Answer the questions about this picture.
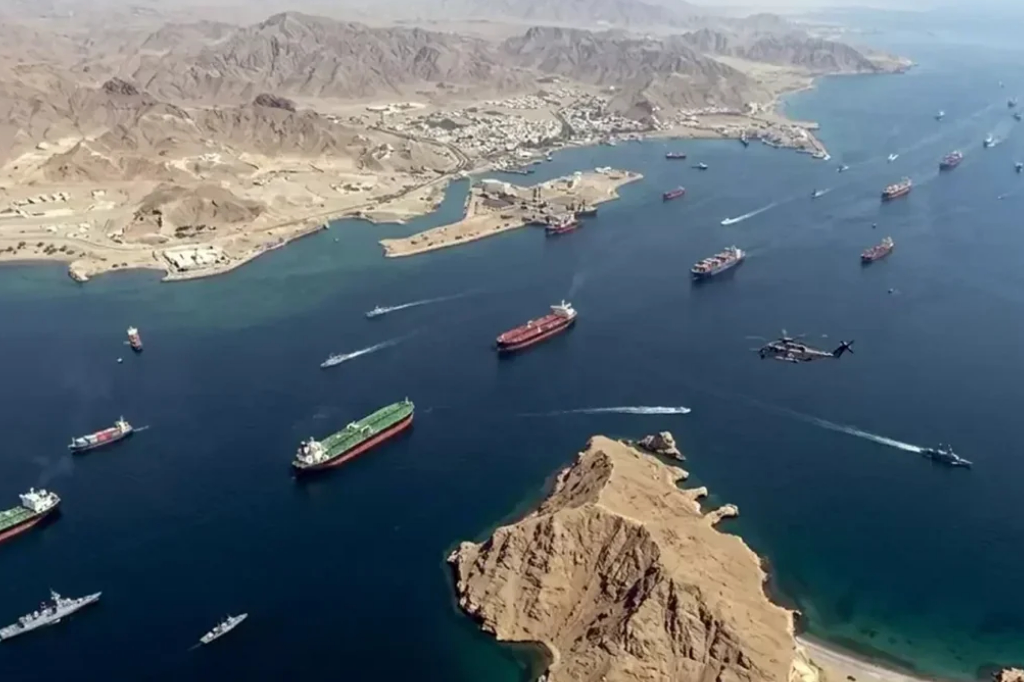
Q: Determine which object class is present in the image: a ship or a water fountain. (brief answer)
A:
ship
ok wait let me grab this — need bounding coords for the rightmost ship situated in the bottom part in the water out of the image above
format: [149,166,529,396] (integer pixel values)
[921,449,970,467]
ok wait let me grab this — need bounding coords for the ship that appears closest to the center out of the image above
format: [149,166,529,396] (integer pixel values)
[498,305,578,347]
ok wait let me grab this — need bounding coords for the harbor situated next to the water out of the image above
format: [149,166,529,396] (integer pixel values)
[380,170,643,257]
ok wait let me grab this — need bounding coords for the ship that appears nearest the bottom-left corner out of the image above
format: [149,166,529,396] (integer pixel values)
[0,591,98,640]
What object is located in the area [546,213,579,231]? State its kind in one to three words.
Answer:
ship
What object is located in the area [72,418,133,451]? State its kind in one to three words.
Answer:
ship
